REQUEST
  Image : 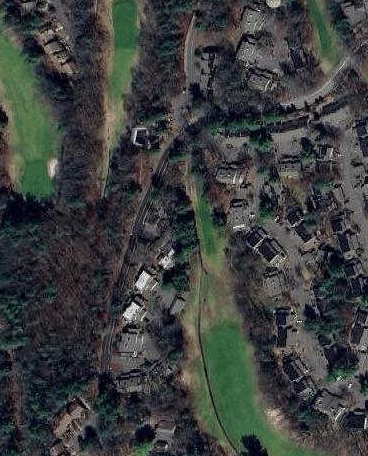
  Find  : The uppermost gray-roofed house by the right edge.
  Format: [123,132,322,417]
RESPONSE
[342,0,368,25]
